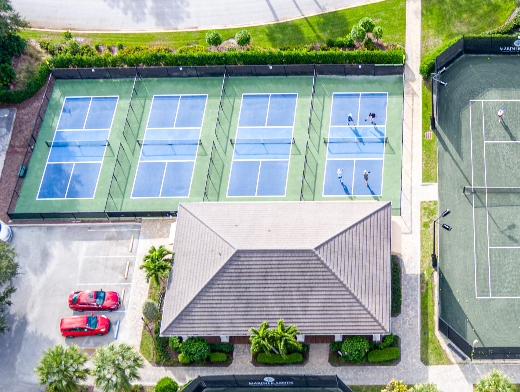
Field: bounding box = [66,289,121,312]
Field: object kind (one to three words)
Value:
car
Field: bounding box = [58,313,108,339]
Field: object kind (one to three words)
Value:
car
